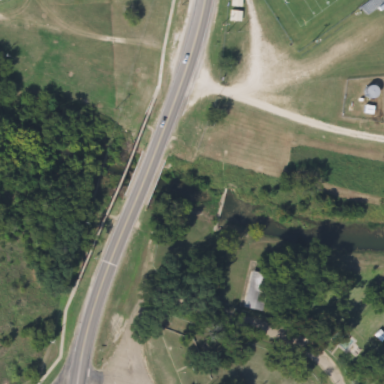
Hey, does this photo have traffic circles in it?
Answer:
No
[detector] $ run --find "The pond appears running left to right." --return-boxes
[216,190,384,253]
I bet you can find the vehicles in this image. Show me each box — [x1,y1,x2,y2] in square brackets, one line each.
[183,54,189,64]
[160,118,166,128]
